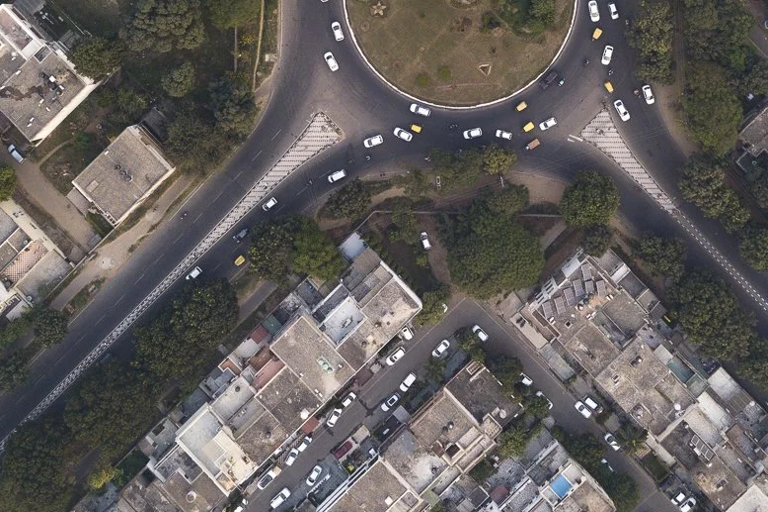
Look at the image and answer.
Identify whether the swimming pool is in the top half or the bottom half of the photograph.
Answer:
bottom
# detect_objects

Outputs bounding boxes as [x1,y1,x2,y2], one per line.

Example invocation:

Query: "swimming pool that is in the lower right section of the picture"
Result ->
[549,473,573,497]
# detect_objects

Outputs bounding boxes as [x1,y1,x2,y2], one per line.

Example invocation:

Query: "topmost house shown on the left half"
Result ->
[0,0,97,143]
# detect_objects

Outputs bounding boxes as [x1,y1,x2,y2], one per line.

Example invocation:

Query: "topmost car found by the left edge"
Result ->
[7,144,24,163]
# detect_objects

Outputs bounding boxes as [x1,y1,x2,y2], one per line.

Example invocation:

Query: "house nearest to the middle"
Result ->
[313,231,423,370]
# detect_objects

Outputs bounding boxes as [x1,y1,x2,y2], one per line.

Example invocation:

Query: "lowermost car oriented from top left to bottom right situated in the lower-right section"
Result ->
[603,430,621,452]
